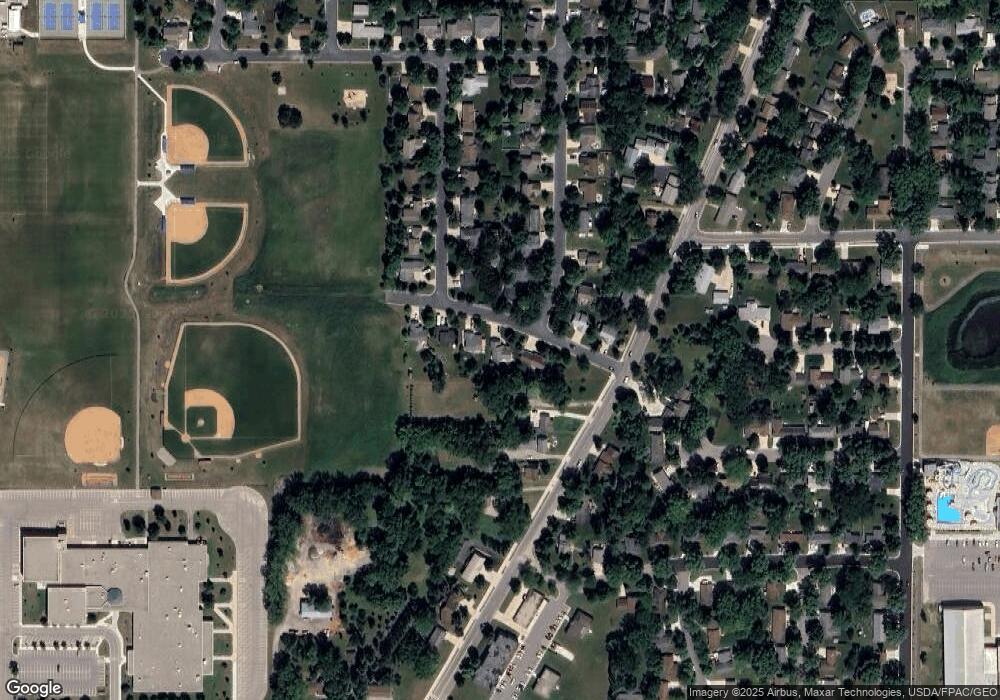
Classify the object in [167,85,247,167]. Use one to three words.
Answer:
baseball field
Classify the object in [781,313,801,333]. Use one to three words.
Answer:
house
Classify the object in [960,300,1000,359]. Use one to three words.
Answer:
pond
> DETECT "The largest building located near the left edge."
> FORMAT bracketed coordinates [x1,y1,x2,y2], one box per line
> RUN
[21,534,213,693]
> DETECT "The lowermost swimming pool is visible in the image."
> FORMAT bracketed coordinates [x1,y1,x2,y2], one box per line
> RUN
[938,495,961,522]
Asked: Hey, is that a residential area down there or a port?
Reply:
residential area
